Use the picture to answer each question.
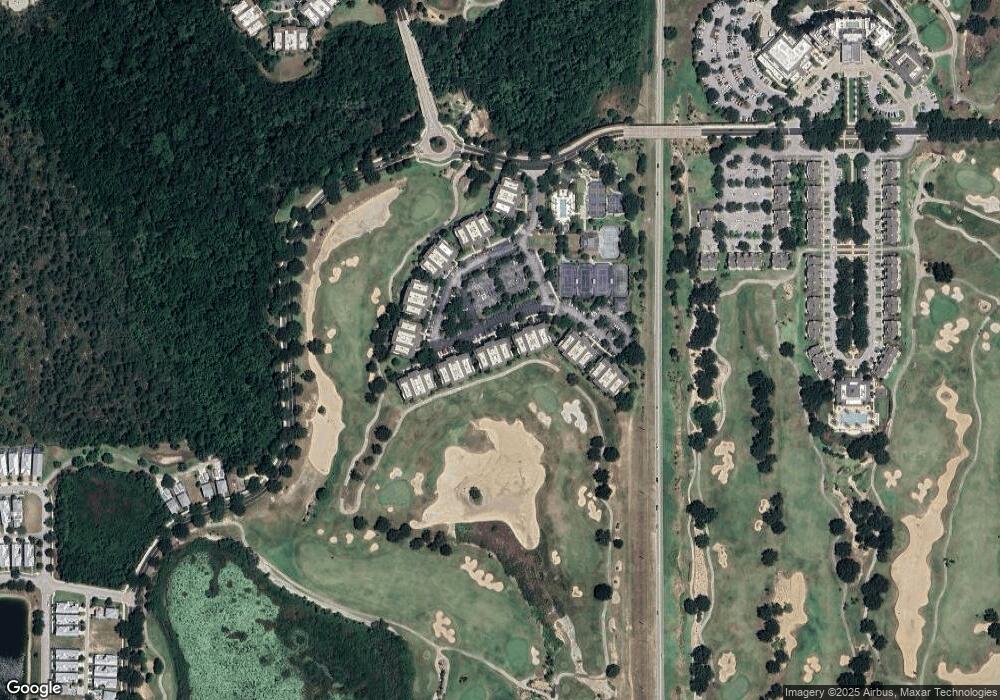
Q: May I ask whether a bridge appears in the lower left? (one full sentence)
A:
No, no bridge can be made out in the lower left.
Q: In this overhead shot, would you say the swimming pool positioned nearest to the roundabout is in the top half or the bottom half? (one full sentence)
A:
You can find the swimming pool positioned nearest to the roundabout in the top half.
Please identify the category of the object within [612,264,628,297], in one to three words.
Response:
tennis court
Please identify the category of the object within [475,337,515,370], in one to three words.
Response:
building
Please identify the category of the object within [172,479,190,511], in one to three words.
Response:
house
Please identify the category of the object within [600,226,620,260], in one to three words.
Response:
sports court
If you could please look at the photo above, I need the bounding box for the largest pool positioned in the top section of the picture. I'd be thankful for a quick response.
[552,189,575,226]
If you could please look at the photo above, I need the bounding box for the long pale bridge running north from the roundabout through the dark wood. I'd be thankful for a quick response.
[398,20,438,122]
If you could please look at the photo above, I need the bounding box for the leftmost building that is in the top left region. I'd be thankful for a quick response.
[229,0,267,35]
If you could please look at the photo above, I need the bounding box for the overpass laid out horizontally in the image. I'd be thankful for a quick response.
[622,125,703,140]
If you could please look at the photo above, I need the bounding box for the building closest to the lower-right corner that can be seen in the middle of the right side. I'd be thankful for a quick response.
[834,377,875,425]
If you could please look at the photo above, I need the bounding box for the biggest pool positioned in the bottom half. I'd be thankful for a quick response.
[828,405,879,435]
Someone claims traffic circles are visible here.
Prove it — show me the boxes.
[421,128,456,161]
